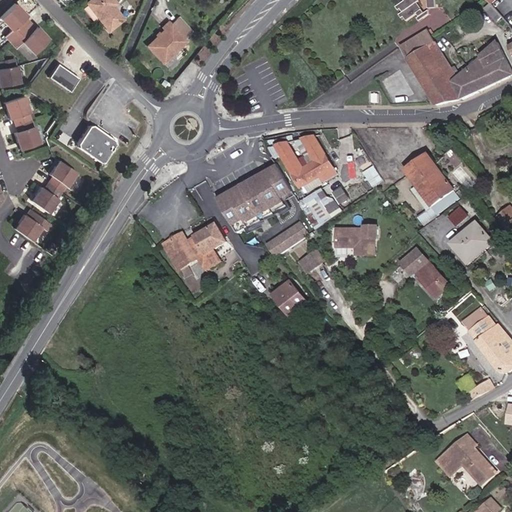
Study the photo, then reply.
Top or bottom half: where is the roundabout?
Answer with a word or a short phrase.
top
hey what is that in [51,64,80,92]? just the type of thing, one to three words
building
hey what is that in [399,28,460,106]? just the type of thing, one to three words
barn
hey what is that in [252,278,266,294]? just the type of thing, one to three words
vehicle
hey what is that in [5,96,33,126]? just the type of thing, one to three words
house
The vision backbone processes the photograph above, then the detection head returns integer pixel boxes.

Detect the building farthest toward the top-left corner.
[1,4,34,48]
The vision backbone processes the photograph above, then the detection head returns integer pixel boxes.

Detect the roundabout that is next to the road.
[154,94,220,161]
